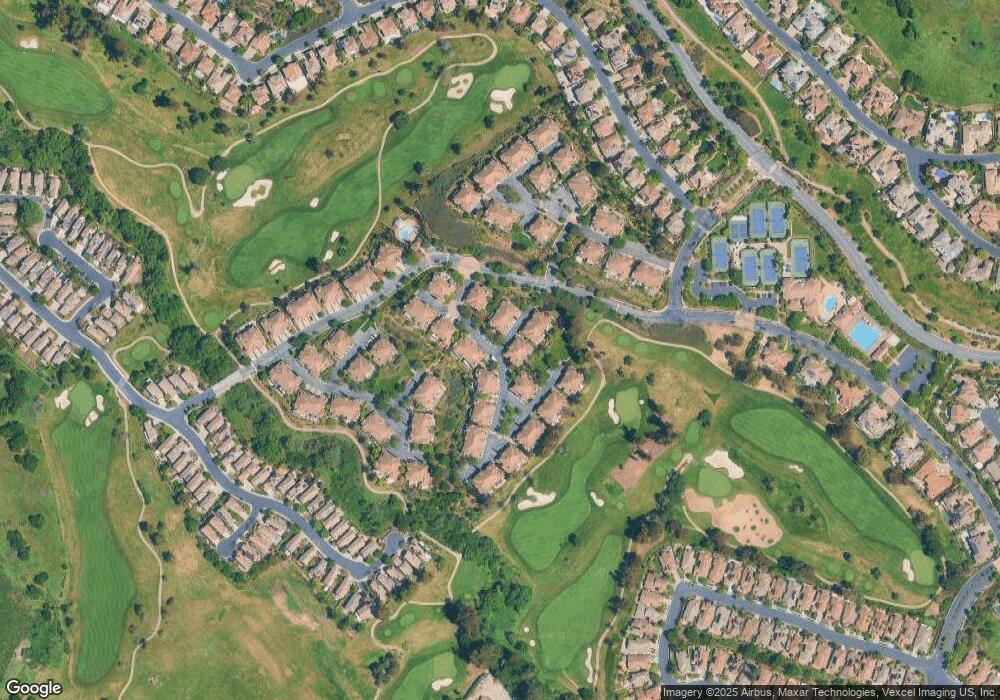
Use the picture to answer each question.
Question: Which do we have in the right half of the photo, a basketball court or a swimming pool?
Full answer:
Visible in the right half of the photo is a swimming pool.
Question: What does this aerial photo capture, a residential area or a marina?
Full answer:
This looks like a residential area.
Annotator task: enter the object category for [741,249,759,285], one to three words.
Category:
tennis court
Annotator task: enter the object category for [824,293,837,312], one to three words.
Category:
swimming pool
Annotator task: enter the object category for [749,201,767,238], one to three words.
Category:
tennis court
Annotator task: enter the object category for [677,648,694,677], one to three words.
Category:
house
